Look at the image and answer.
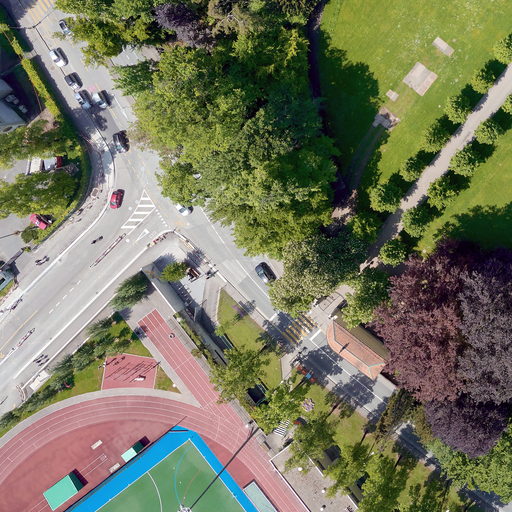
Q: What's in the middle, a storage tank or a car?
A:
car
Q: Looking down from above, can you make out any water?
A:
No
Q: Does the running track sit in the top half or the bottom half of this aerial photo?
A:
bottom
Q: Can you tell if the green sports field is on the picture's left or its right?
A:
left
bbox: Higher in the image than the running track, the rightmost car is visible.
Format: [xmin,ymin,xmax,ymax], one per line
[254,260,272,282]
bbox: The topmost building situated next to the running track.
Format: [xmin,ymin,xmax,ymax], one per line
[142,260,193,316]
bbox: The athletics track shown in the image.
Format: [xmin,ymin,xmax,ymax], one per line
[0,310,304,512]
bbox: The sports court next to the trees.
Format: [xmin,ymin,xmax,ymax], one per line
[102,353,156,390]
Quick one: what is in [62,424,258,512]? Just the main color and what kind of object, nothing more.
green sports field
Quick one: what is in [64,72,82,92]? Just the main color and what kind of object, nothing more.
gray car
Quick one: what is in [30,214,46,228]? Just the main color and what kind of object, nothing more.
red car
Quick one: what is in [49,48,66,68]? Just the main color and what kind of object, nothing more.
white car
